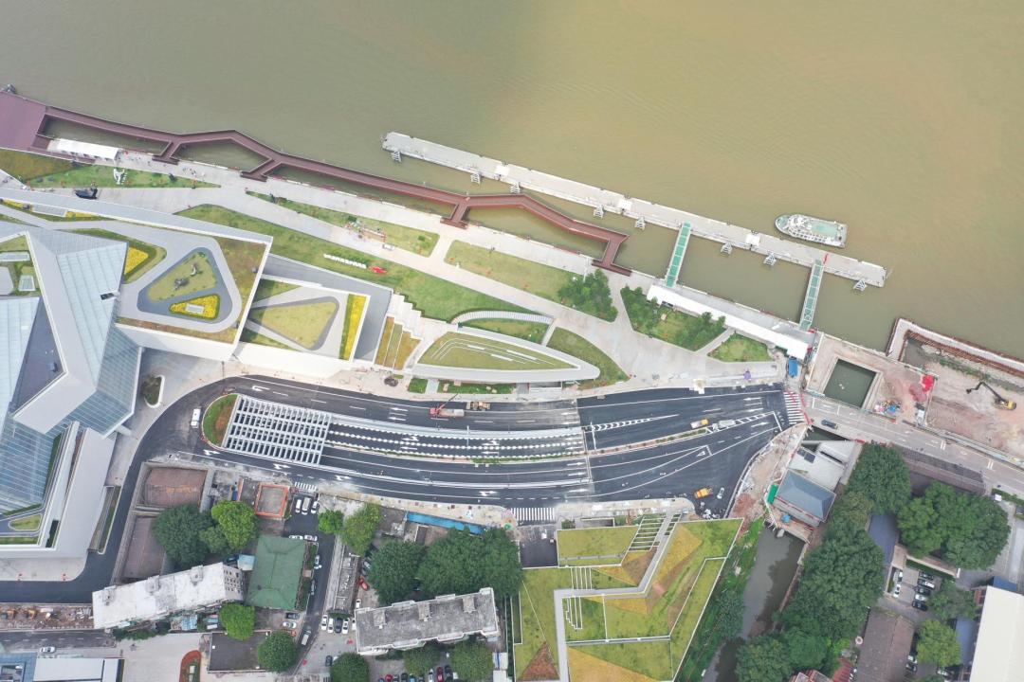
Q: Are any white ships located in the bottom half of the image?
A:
No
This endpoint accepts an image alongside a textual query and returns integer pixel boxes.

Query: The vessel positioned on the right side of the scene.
[775,214,848,249]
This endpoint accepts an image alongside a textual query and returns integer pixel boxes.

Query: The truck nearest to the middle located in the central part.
[431,382,466,419]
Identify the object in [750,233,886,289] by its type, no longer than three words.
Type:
pier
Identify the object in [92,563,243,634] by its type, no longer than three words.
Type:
building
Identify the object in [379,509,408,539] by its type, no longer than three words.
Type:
house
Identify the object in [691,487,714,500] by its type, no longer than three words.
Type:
vehicle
